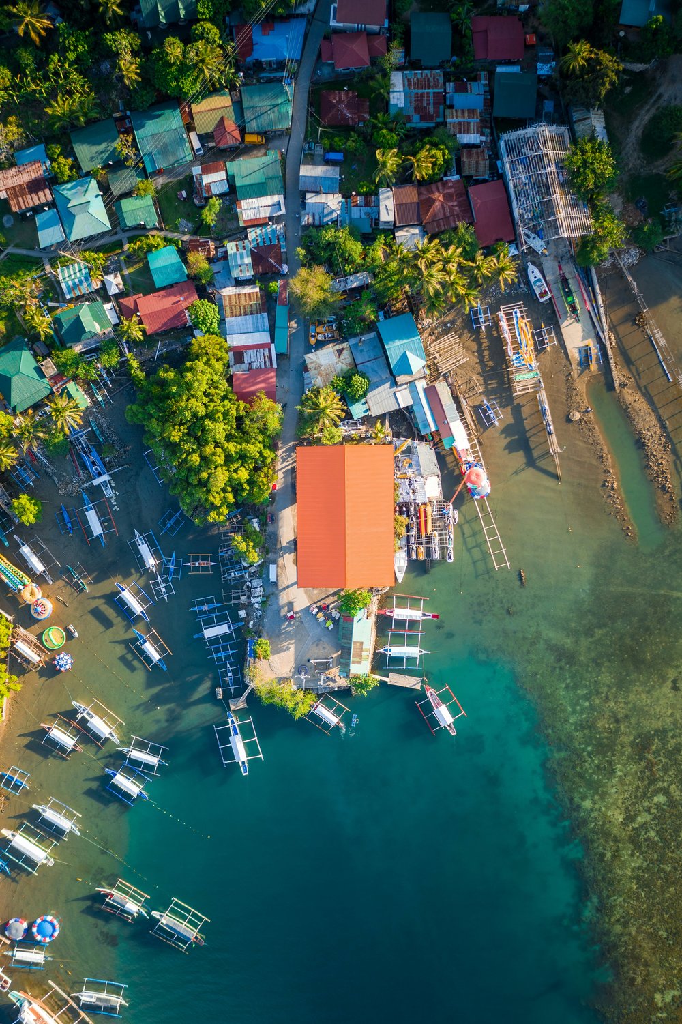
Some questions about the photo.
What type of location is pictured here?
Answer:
residential area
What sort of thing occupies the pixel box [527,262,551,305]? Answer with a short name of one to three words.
boat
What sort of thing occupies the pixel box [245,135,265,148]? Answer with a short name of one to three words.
vehicle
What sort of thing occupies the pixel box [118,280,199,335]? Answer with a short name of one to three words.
house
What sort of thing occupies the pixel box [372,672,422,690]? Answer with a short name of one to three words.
pier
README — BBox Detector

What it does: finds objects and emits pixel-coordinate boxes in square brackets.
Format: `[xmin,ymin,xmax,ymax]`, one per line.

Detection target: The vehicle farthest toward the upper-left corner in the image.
[190,133,205,158]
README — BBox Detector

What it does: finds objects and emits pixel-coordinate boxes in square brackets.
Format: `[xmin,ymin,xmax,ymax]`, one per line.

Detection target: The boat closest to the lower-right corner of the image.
[416,684,467,737]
